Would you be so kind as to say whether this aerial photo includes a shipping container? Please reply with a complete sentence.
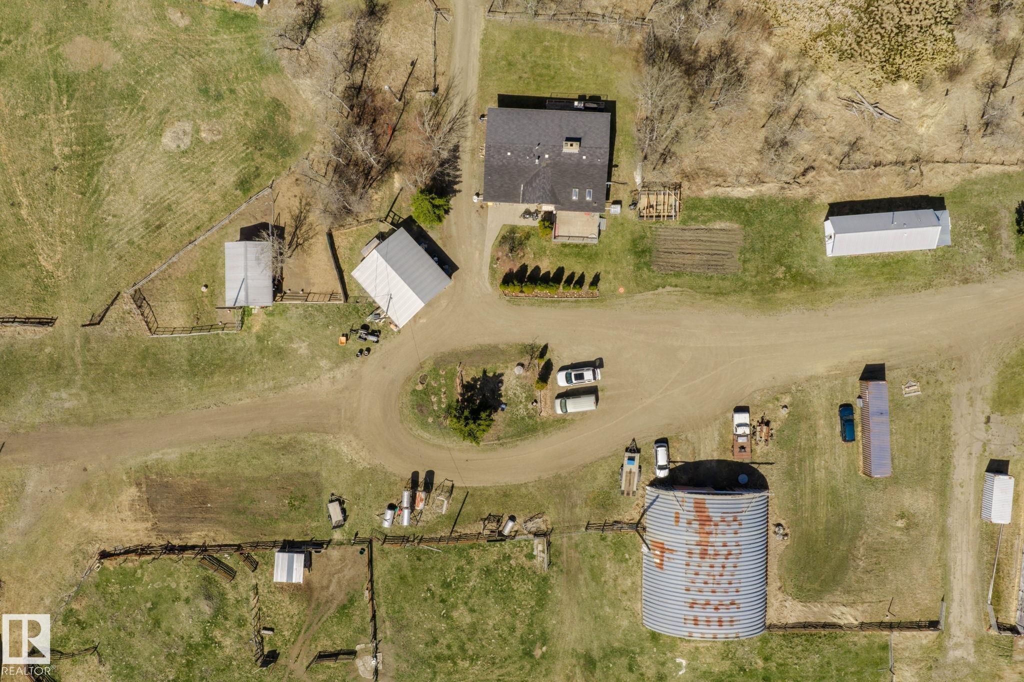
Yes, a shipping container can be made out from above.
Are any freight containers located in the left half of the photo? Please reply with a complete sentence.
No, the scene shows no freight container in the left half of the photo.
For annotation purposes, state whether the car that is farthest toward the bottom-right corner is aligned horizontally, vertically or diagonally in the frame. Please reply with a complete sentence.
In this picture, the car that is farthest toward the bottom-right corner is oriented vertically.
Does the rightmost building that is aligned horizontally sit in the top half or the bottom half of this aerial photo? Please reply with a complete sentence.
The rightmost building that is aligned horizontally sits in the top half of the picture.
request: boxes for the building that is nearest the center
[352,227,451,328]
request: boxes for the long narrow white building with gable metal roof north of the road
[824,209,942,256]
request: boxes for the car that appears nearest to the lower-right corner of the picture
[838,404,858,443]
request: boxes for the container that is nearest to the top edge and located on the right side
[859,380,892,478]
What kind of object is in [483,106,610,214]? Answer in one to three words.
house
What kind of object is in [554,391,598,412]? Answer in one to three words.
vehicle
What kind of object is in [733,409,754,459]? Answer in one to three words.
truck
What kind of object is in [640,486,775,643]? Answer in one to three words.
barn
